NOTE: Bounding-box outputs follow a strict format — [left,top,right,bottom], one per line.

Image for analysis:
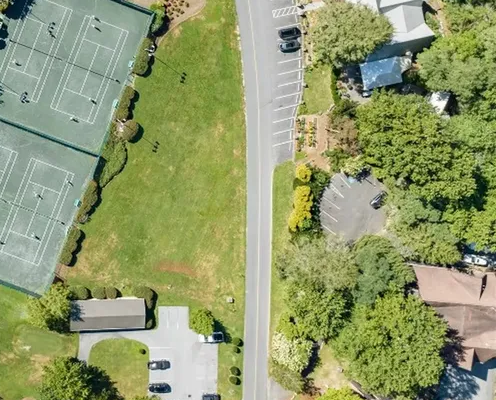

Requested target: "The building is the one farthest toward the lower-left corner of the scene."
[70,295,147,331]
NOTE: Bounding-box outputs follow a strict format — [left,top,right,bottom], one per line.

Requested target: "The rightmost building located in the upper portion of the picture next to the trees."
[422,91,450,113]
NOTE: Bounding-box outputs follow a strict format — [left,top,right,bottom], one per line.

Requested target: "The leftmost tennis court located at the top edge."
[0,0,85,130]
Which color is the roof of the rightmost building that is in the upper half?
white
